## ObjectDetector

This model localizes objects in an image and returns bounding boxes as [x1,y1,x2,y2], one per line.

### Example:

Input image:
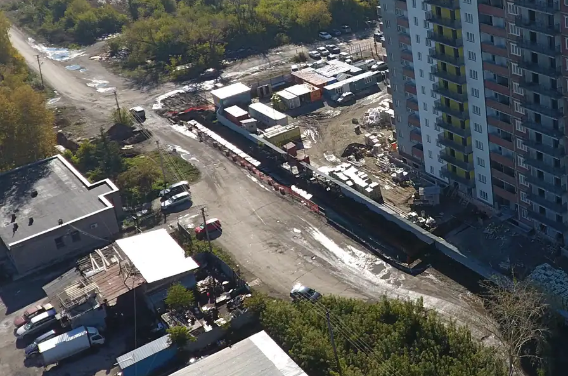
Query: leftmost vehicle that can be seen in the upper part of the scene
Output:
[130,106,145,121]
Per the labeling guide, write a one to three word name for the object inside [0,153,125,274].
building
